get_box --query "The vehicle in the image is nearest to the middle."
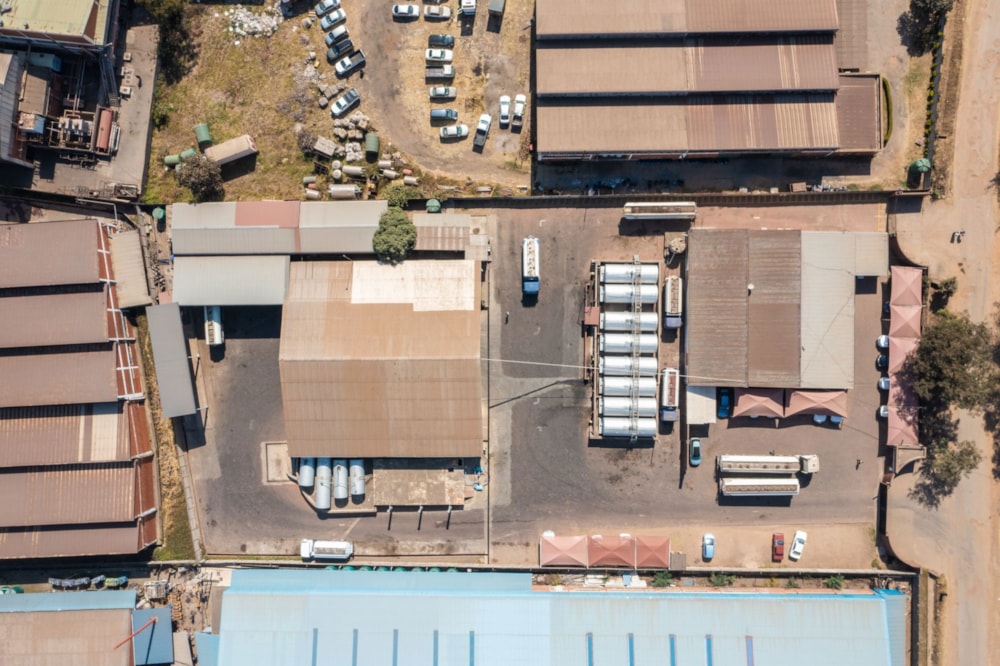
[521,237,541,296]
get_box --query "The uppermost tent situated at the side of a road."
[889,266,923,306]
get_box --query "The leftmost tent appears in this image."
[539,530,588,567]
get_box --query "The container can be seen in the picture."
[201,131,259,166]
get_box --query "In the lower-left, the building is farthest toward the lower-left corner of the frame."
[0,590,143,666]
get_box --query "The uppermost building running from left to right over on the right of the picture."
[535,0,885,161]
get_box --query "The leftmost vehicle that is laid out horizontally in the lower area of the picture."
[302,537,355,559]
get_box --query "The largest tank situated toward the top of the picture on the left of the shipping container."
[95,107,124,157]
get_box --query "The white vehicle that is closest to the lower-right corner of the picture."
[788,529,805,560]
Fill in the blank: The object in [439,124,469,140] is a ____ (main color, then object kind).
white car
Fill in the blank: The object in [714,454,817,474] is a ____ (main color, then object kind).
white vehicle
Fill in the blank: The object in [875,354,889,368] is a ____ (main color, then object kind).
black vehicle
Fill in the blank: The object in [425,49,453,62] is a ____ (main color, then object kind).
white vehicle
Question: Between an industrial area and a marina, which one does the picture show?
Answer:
industrial area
